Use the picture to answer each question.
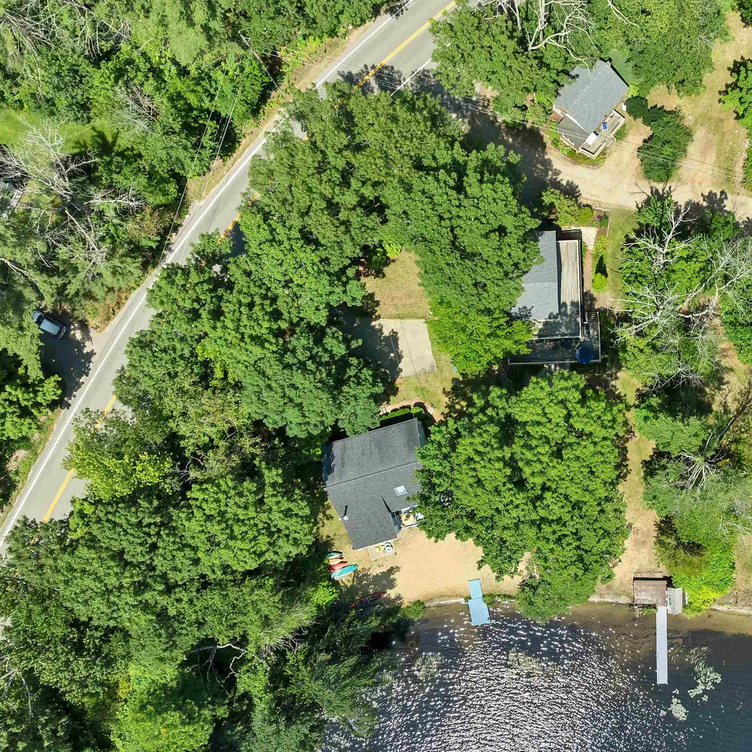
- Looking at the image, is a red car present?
No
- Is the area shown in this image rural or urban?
rural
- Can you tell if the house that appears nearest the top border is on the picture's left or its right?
right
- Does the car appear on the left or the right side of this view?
left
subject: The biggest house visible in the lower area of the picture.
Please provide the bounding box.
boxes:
[323,416,434,551]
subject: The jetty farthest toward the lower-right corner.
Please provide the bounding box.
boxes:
[655,607,668,684]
